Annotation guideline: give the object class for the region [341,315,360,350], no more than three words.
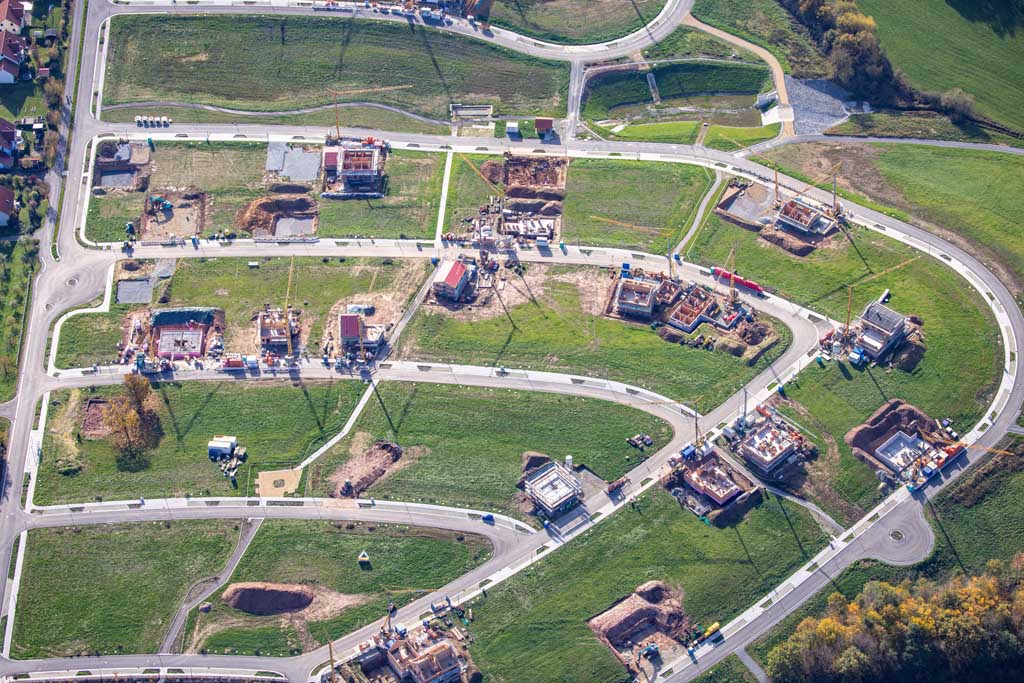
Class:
house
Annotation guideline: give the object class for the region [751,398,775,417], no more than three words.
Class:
vehicle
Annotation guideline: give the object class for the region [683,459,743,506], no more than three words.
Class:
house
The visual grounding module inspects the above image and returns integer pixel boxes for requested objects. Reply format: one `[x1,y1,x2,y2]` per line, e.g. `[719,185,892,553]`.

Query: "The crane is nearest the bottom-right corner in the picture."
[916,422,1014,485]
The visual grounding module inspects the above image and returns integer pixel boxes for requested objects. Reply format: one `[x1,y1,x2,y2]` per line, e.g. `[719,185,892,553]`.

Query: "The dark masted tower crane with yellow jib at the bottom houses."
[374,590,439,662]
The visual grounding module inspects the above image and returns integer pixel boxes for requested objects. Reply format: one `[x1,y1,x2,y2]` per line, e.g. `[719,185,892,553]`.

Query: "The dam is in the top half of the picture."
[751,93,794,128]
